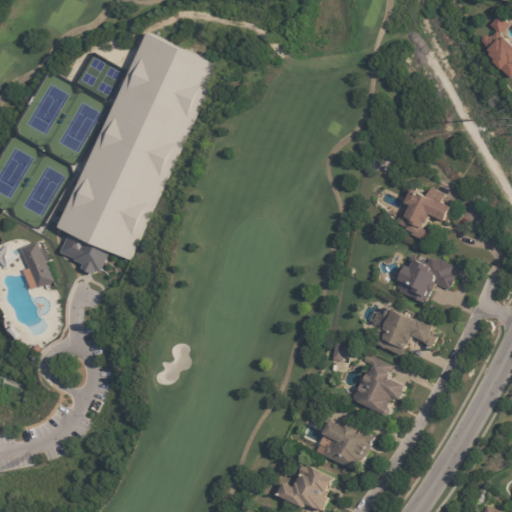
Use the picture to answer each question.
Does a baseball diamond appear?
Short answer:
No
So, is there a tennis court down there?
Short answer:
Yes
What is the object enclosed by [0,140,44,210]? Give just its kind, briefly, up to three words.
tennis court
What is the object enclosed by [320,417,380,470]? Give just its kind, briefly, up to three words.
house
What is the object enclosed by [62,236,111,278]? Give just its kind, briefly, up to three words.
building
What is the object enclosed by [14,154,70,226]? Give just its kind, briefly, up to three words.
tennis court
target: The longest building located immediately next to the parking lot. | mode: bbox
[61,32,214,258]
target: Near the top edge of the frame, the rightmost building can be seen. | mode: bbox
[480,18,512,83]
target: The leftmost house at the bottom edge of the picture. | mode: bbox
[275,463,338,512]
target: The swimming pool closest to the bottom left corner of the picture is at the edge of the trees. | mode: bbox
[0,240,63,347]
